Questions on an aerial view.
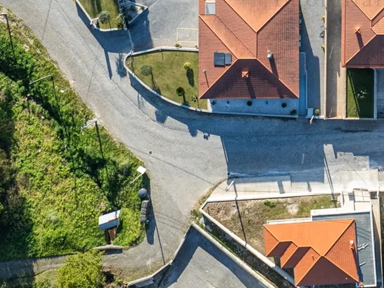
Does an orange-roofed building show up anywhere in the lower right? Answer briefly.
Yes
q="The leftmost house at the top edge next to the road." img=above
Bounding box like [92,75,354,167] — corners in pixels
[199,0,301,99]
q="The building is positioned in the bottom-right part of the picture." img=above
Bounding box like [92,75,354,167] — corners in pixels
[263,207,377,287]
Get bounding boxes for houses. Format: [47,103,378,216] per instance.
[199,0,301,99]
[263,207,377,287]
[343,0,384,67]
